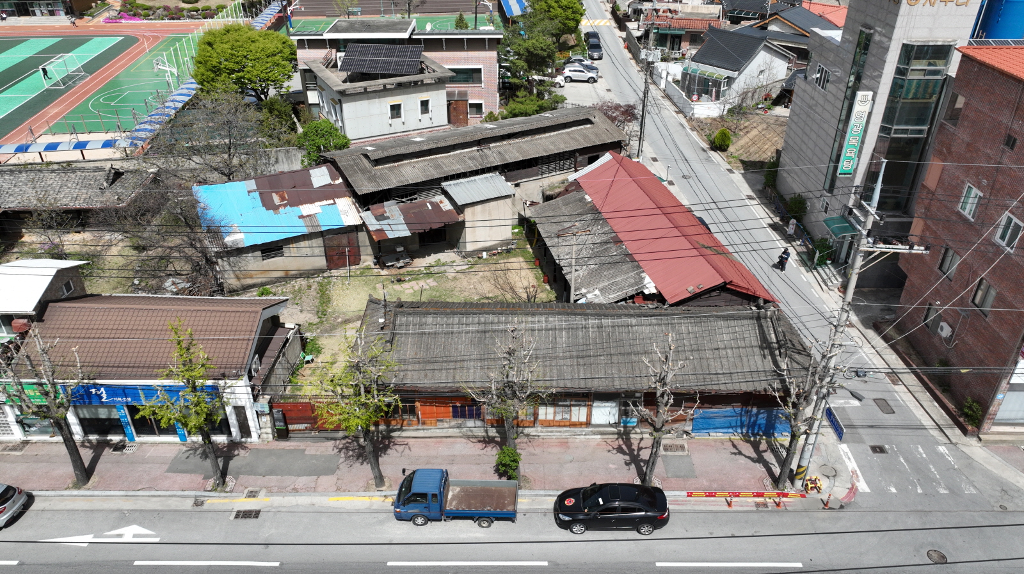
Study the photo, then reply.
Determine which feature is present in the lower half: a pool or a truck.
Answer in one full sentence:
You can see a truck in the lower half.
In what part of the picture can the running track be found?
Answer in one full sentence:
The running track appears toward the top left of the photo.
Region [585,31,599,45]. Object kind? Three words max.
car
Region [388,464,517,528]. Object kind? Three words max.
truck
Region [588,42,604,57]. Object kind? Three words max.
car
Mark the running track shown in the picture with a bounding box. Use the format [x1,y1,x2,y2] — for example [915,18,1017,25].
[0,30,167,165]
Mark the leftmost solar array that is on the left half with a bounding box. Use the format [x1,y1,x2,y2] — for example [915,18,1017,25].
[340,45,423,90]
